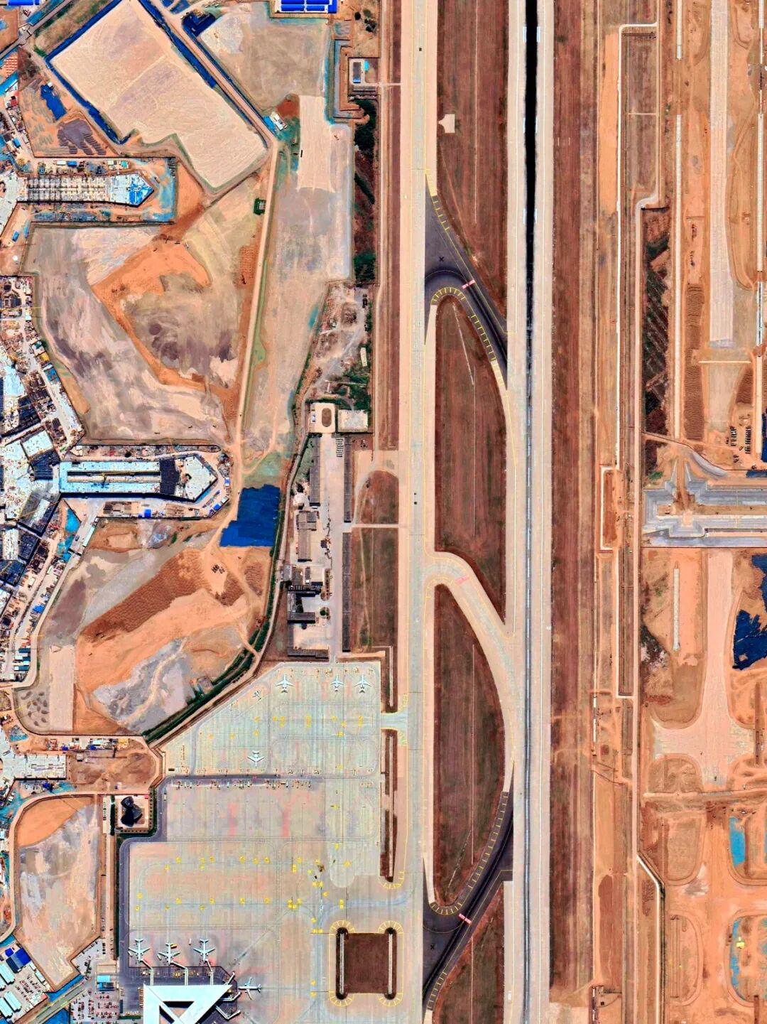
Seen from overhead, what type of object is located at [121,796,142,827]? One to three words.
building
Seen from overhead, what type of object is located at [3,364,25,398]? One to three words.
building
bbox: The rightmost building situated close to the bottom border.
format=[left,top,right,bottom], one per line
[142,986,231,1024]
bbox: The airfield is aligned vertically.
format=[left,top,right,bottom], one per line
[119,0,554,1024]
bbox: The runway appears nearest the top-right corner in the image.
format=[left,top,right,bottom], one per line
[710,0,733,340]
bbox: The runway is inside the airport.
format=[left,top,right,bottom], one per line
[504,0,554,1024]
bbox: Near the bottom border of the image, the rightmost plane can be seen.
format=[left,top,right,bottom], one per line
[239,977,262,999]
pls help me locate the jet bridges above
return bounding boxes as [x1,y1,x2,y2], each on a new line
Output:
[140,959,153,986]
[225,972,235,986]
[221,992,241,1002]
[214,1005,242,1021]
[171,960,187,986]
[205,959,213,986]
